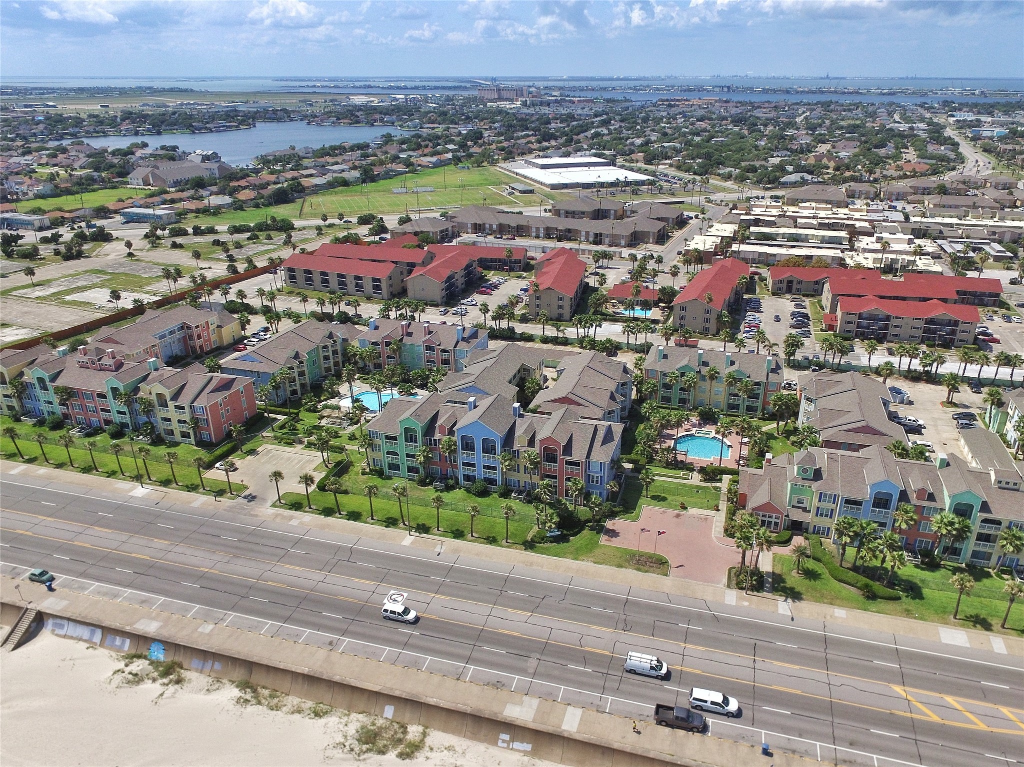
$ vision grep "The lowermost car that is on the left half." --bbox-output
[381,600,418,622]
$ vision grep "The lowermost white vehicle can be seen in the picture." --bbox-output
[690,687,740,717]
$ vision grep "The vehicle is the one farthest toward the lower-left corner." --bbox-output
[27,567,56,583]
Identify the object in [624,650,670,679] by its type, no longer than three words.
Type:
vehicle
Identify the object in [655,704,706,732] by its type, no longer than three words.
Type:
vehicle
